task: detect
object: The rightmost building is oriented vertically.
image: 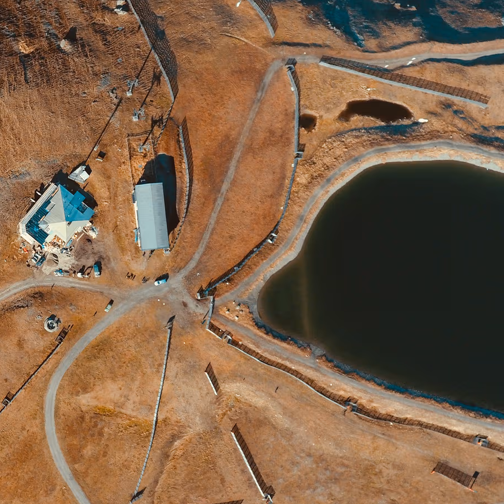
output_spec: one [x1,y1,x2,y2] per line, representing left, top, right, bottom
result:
[130,180,170,253]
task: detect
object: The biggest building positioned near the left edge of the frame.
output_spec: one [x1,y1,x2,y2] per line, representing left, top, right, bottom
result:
[19,183,94,247]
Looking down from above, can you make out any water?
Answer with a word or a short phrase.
Yes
